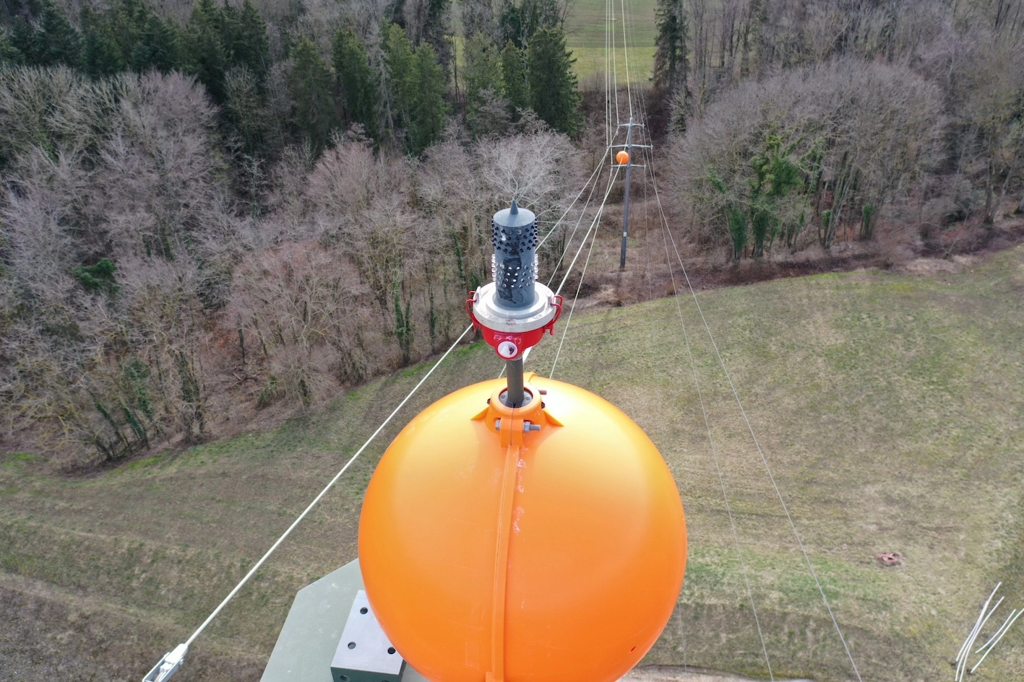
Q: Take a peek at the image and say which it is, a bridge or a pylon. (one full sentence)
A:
Visible in the photo is a pylon.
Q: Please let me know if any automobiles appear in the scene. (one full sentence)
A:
No, there isn't any automobile down there.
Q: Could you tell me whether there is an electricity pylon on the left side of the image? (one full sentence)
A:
No, I can find no electricity pylon on the left side of the image.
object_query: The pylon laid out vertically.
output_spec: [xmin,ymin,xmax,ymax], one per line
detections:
[607,116,652,266]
